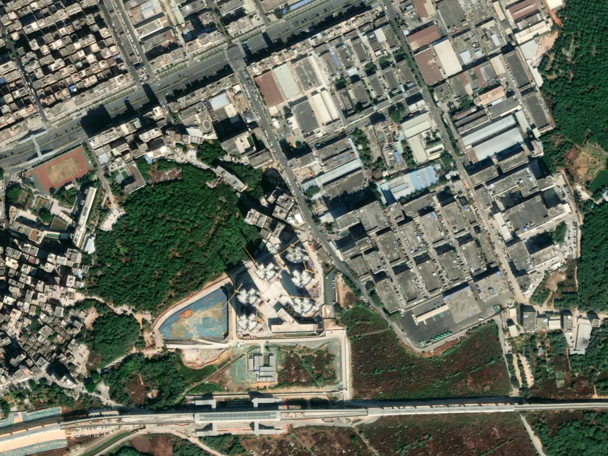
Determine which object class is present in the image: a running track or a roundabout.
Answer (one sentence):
This aerial view contains a running track.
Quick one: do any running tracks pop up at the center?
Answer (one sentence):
No, at the center there is no running track.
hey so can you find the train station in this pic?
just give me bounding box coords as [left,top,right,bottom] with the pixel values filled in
[193,398,285,436]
